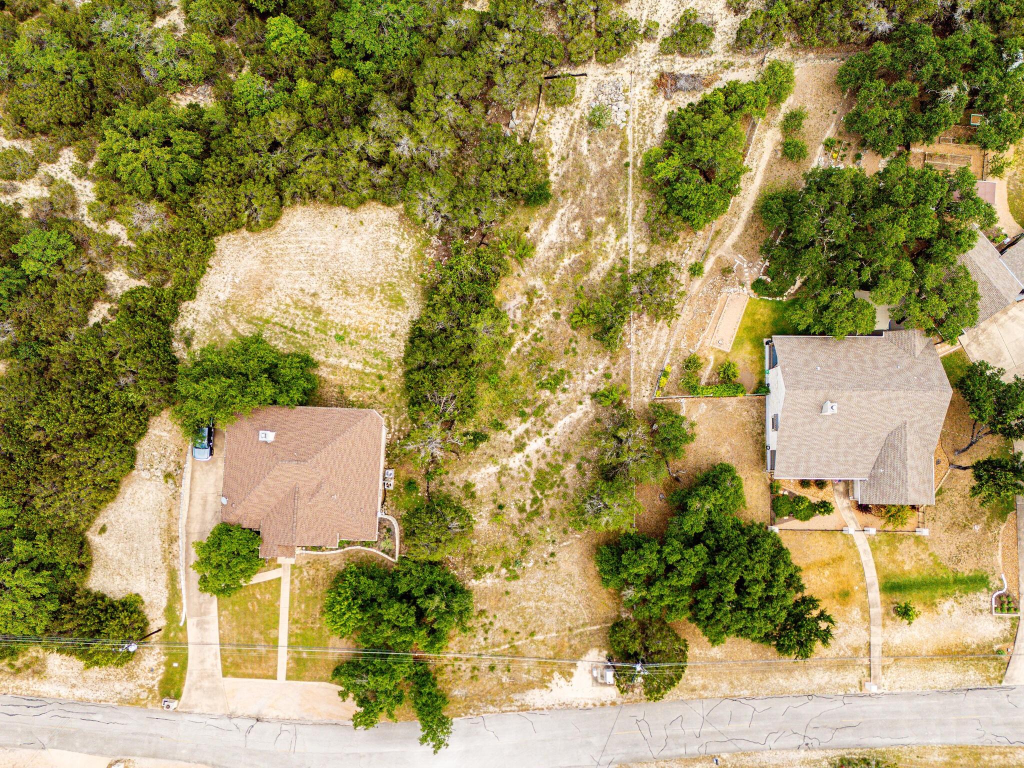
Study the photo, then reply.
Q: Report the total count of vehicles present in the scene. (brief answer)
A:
1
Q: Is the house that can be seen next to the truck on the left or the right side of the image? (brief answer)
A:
left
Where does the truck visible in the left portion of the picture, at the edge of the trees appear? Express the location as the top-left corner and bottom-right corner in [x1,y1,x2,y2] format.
[191,429,216,461]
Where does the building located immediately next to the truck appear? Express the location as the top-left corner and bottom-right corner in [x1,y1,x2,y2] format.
[220,405,386,558]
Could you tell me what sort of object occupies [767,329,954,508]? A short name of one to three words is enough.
house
